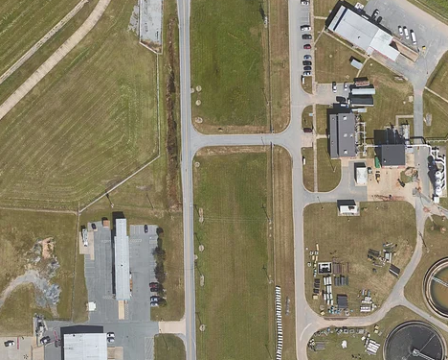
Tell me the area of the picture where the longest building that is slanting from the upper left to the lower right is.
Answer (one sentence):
The longest building that is slanting from the upper left to the lower right is located in the top right region of the scene.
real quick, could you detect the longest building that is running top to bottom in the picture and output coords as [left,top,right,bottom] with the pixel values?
[113,218,131,300]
